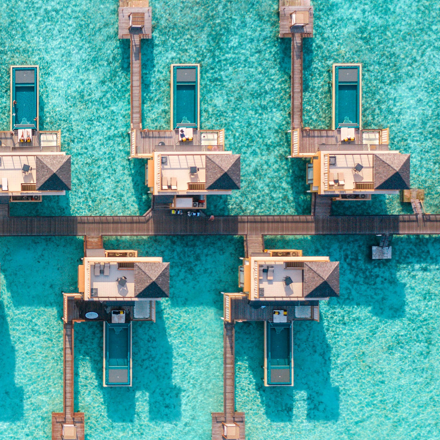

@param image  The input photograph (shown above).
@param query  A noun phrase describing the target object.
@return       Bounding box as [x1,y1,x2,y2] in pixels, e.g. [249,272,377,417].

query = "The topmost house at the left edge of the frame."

[0,128,71,205]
